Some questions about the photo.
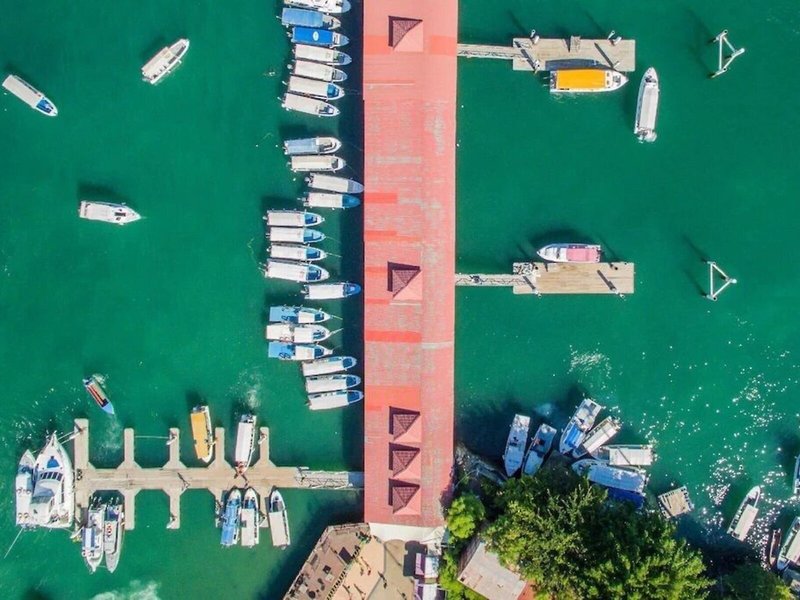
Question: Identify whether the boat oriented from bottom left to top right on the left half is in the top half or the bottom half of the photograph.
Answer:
top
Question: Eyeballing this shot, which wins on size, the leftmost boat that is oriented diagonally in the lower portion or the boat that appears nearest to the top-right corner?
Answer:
the boat that appears nearest to the top-right corner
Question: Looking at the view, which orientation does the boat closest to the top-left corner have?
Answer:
on a diagonal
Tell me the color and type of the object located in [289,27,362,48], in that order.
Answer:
blue boat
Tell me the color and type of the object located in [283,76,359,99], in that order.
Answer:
white boat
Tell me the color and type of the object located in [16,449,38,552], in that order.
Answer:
white boat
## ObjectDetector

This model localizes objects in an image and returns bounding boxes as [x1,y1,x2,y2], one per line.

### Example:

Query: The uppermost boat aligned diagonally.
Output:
[145,40,191,84]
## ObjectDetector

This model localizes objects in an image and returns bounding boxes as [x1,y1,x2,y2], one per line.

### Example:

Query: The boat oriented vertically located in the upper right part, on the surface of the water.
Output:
[631,66,660,139]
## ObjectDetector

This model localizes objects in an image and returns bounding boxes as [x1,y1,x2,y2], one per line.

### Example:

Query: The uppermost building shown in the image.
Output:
[362,0,459,525]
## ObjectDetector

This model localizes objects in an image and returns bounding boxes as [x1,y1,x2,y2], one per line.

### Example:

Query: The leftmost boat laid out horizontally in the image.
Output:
[77,203,143,226]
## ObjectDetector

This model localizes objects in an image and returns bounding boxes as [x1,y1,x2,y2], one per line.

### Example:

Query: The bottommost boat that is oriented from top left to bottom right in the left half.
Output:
[81,376,115,414]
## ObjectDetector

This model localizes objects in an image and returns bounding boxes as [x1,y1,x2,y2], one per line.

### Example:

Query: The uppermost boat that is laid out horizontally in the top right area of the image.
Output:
[541,68,629,98]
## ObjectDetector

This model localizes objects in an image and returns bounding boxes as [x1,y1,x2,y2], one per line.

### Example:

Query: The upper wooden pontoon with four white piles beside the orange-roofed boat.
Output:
[512,24,636,73]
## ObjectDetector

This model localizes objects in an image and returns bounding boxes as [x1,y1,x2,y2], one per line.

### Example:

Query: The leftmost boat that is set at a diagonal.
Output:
[2,73,60,115]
